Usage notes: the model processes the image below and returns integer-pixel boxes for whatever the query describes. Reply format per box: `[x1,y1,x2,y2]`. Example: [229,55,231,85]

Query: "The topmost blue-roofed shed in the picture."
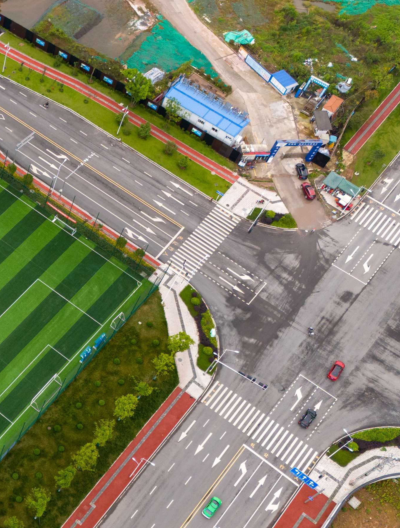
[269,66,301,96]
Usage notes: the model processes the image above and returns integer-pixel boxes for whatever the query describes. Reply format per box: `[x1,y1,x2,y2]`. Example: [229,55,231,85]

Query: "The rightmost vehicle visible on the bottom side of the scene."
[327,360,344,382]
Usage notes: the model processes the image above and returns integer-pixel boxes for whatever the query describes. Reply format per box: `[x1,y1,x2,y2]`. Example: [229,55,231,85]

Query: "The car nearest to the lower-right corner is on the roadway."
[299,408,315,430]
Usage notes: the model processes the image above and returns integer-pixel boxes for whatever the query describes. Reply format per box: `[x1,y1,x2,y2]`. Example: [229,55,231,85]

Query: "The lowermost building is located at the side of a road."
[236,145,268,160]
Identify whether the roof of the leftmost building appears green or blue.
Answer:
blue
